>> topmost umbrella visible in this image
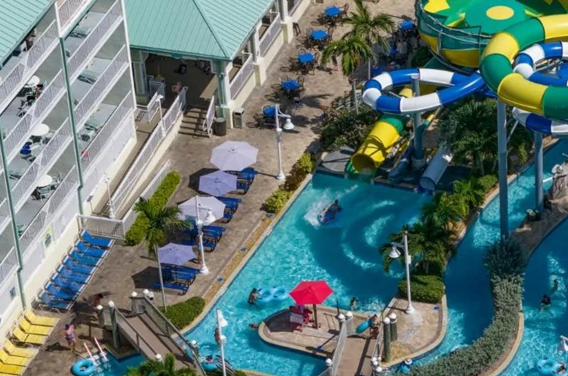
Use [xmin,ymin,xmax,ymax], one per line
[208,146,263,178]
